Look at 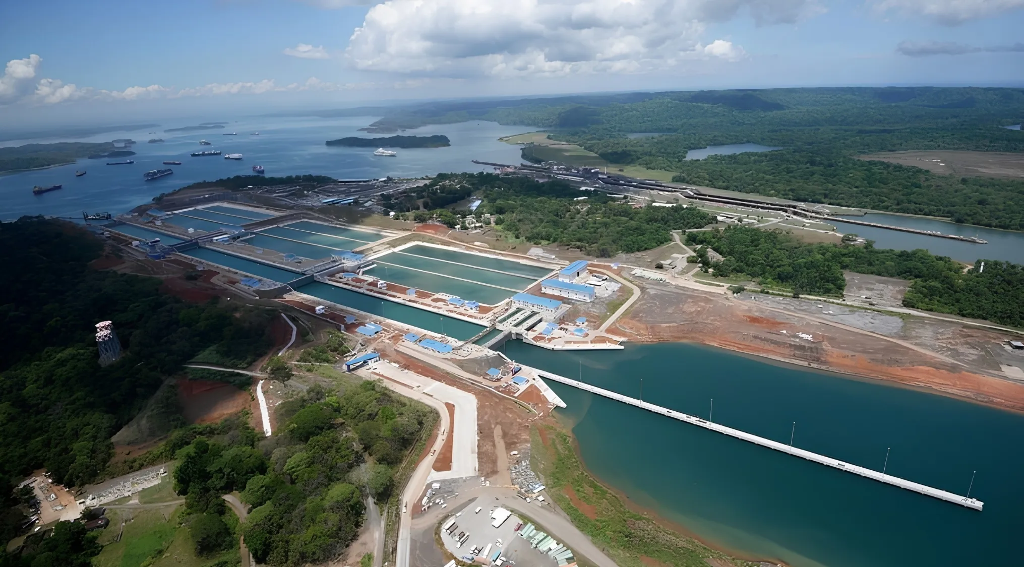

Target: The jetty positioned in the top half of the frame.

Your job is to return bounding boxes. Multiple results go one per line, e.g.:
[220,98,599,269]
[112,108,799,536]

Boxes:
[473,162,990,243]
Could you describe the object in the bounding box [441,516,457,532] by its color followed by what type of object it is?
white vehicle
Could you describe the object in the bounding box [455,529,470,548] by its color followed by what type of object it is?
white vehicle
